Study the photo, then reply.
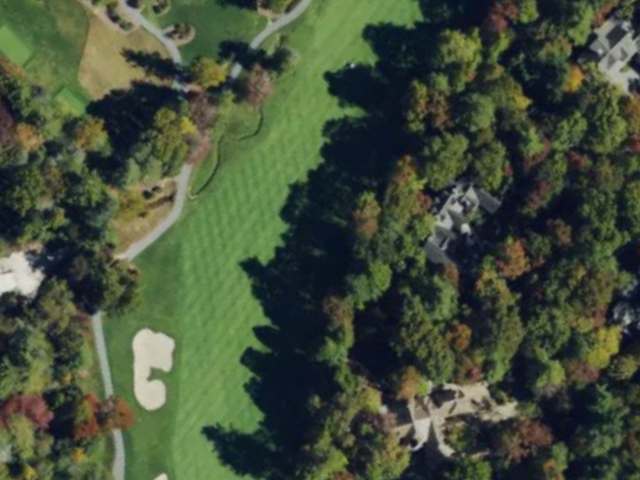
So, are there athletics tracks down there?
No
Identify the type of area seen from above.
golf course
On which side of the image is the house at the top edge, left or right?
right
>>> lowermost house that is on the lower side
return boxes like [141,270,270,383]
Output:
[387,379,520,451]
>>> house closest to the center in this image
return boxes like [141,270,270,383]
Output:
[422,182,502,267]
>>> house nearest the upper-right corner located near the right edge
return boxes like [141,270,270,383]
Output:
[585,17,640,75]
